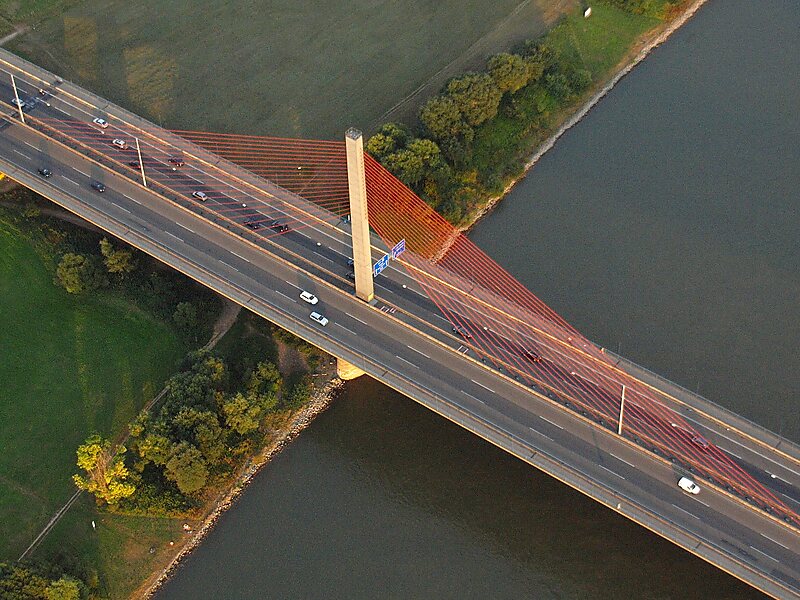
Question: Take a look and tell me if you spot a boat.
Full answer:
No, no boat can be seen from above.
